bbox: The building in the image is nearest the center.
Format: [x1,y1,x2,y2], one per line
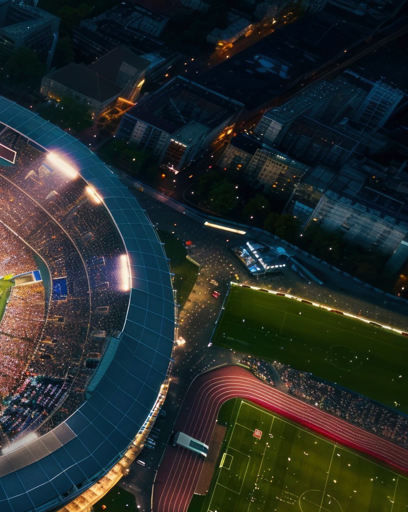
[233,233,290,272]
